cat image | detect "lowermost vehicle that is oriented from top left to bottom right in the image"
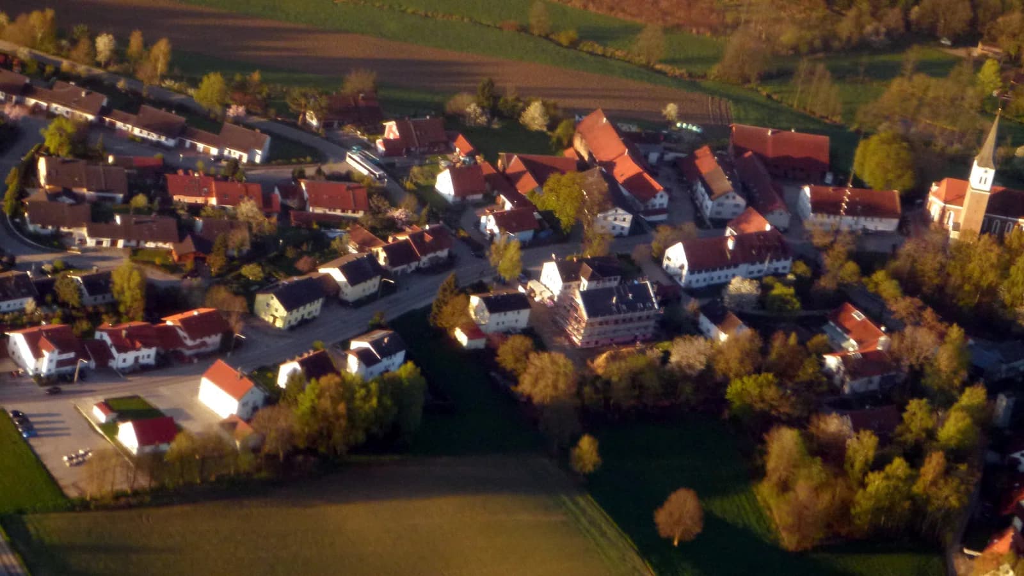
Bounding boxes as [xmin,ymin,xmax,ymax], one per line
[528,277,556,303]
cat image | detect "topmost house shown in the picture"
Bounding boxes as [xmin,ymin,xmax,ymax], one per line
[979,43,1003,62]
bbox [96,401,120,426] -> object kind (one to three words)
shed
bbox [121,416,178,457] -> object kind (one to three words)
building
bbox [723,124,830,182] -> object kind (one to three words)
barn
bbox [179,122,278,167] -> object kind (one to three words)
house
